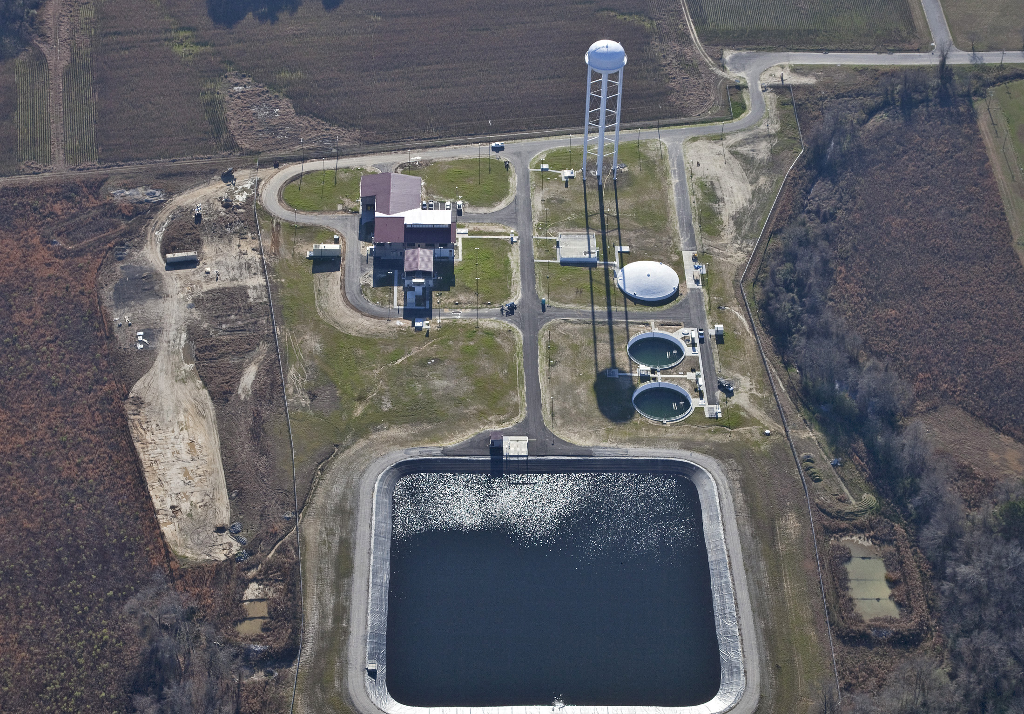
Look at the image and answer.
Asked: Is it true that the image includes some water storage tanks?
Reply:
Yes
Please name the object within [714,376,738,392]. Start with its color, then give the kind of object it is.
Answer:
gray vehicle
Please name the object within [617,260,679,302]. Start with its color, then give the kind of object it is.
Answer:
white storage tank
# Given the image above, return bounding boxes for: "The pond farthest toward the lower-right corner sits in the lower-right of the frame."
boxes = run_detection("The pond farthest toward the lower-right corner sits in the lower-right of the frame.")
[833,537,899,620]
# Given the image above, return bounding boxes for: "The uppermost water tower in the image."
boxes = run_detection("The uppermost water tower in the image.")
[581,40,626,185]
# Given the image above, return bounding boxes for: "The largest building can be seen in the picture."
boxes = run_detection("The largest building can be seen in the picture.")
[360,172,456,258]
